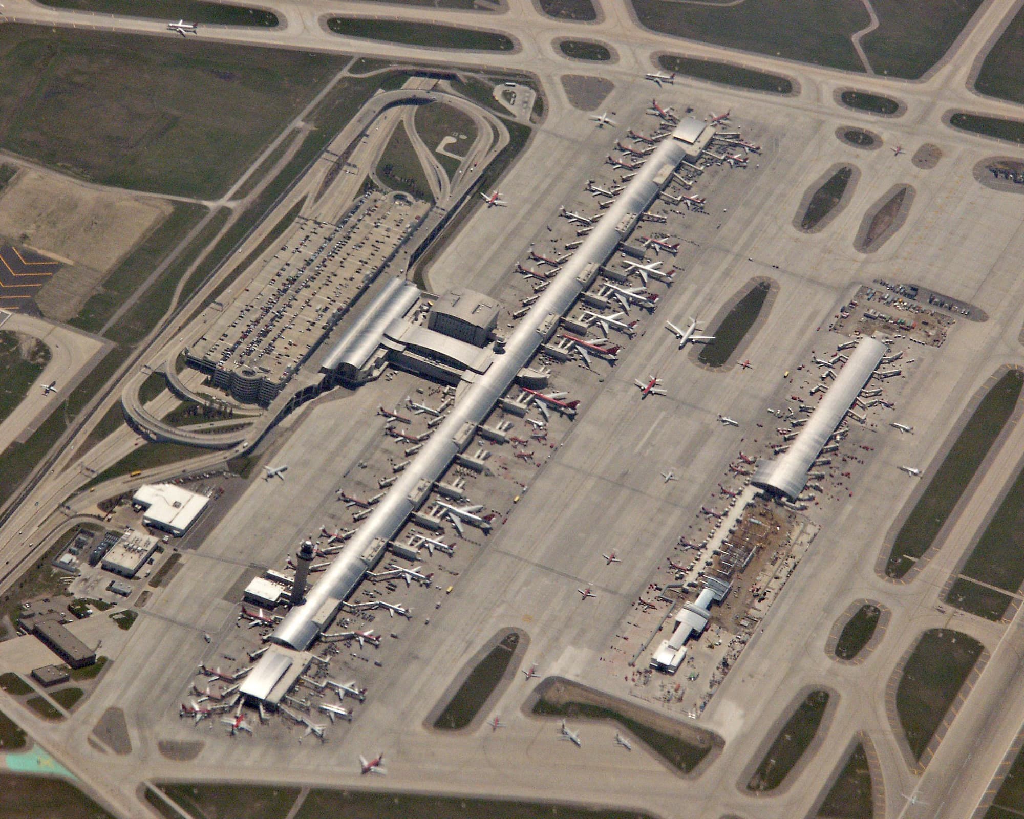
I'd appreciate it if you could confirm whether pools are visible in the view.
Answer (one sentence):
No, I find no pool anywhere in the image.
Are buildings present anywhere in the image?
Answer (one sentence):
Yes, this view includes a building.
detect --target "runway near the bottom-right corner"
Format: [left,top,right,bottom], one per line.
[898,603,1024,819]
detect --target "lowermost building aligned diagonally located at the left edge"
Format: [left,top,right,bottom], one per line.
[22,605,99,660]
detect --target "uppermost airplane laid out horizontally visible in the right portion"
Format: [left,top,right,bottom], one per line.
[646,68,680,83]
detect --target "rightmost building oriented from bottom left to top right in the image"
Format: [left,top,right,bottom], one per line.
[741,336,893,503]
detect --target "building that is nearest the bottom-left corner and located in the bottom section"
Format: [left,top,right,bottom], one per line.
[34,660,73,682]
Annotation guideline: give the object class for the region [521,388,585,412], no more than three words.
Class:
airplane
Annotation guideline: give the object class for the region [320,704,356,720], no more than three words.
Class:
airplane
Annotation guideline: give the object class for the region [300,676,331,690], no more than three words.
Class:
jet bridge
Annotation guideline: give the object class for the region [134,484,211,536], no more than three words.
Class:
building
